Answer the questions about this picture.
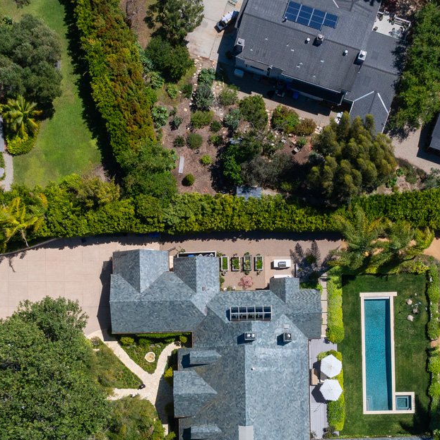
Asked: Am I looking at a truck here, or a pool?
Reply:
pool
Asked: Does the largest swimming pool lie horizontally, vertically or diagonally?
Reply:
vertically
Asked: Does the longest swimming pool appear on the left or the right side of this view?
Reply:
right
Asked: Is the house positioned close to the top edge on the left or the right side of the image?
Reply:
right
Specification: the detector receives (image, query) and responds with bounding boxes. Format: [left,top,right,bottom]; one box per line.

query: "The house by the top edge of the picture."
[233,0,411,138]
